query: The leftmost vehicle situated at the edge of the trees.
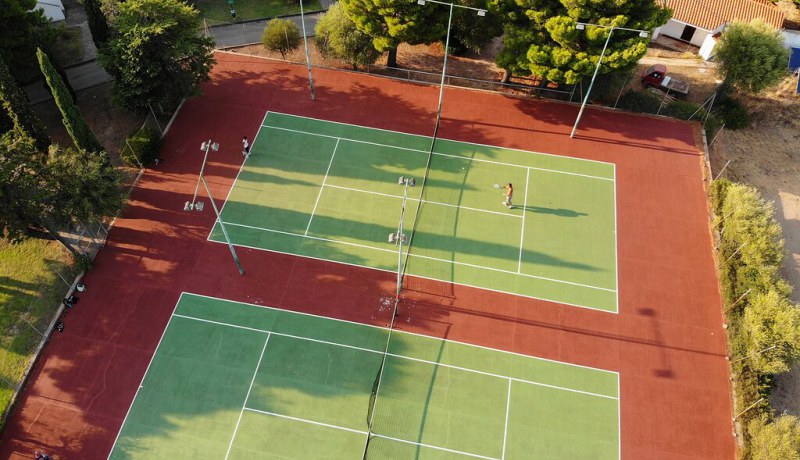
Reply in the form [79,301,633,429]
[641,63,697,100]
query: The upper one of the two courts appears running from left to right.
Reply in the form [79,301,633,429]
[208,112,619,312]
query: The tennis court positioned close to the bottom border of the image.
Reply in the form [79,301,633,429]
[105,291,622,460]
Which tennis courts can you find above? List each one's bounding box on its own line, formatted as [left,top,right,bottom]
[208,112,619,312]
[105,291,622,460]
